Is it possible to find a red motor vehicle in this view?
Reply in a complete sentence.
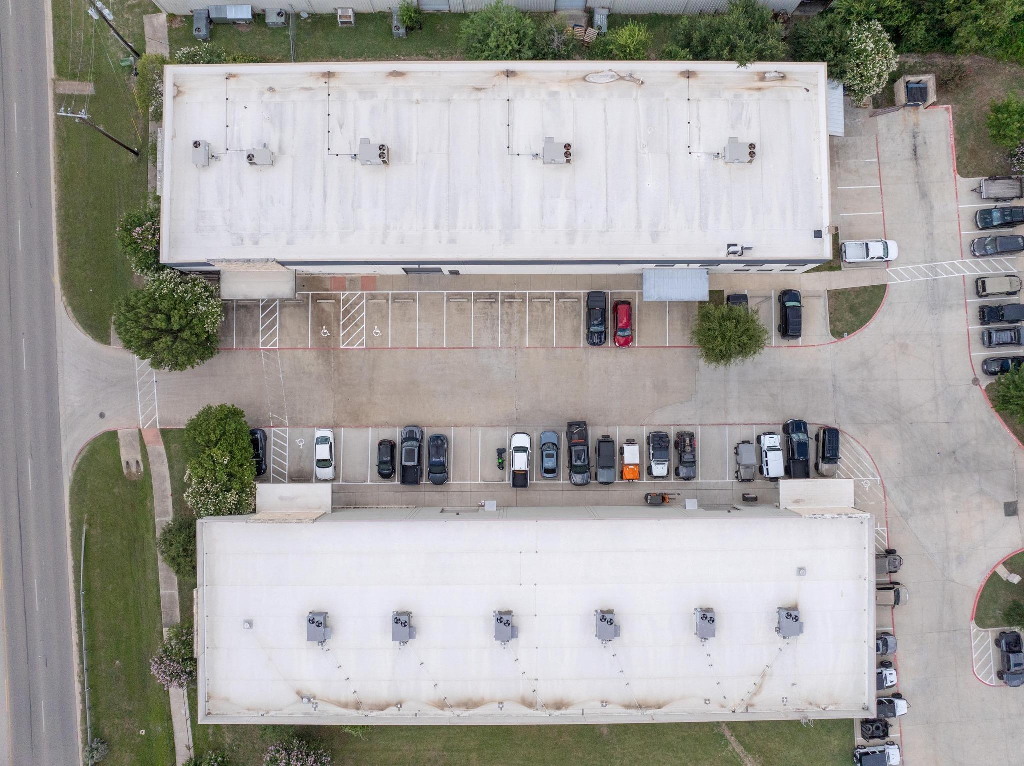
Yes, you can see a red motor vehicle in this photo.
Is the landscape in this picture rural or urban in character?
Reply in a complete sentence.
The area is urban.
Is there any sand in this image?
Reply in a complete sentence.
No, there's no sand in this view.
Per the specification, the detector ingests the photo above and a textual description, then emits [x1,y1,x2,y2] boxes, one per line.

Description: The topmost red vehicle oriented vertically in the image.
[612,300,635,348]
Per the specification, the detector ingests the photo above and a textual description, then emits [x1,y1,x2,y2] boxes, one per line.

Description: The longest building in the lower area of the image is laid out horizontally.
[191,479,877,724]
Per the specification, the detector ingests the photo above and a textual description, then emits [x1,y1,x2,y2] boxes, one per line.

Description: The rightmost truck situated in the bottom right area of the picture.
[992,628,1024,688]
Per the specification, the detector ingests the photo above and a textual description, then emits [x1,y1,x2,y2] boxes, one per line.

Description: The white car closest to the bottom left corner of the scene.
[313,430,337,481]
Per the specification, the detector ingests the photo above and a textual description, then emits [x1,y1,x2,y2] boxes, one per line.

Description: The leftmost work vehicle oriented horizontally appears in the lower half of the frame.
[643,492,675,506]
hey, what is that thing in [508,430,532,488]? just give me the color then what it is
white truck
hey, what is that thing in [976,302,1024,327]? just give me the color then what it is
black car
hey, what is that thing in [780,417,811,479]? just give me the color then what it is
black truck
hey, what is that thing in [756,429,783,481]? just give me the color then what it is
white car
